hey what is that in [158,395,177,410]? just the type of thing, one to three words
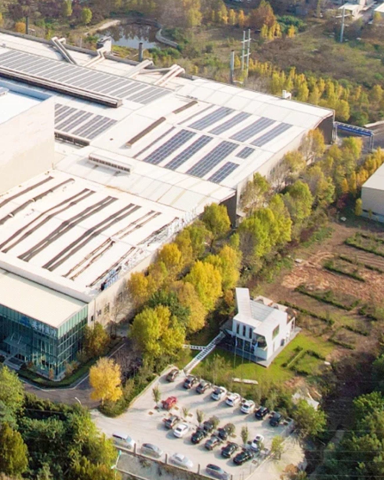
car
